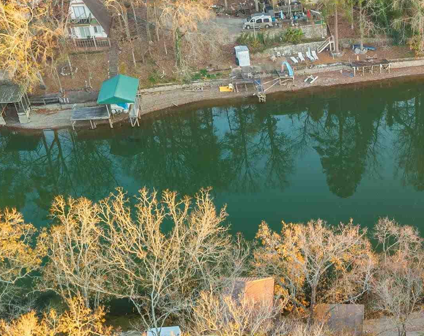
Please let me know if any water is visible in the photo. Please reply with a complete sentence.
Yes, water can be seen from above here.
